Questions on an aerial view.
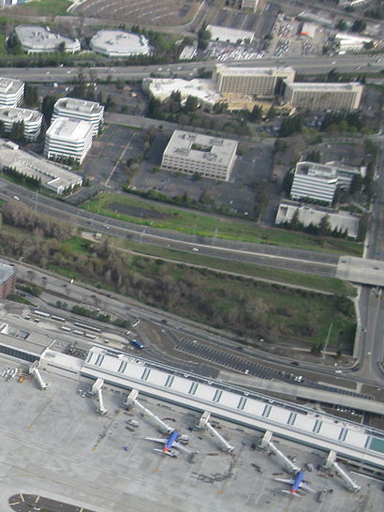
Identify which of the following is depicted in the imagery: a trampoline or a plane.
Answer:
plane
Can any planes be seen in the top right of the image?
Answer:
No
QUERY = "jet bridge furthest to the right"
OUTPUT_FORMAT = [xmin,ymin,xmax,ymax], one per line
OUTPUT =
[335,459,361,493]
